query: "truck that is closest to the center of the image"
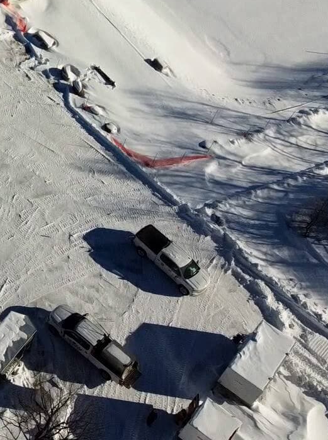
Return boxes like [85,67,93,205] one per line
[127,225,211,301]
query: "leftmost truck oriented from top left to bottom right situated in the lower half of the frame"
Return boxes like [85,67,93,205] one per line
[39,298,151,393]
